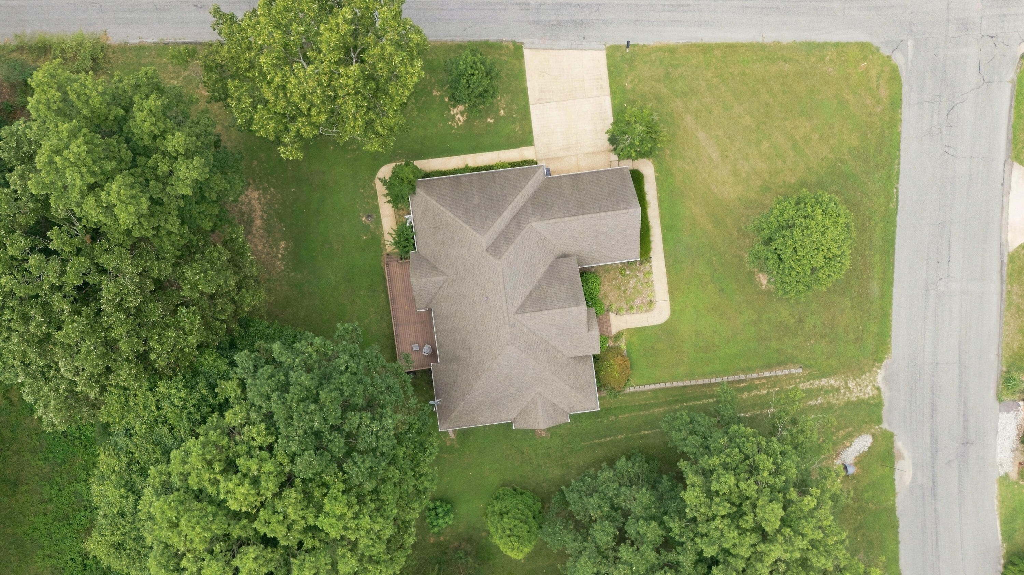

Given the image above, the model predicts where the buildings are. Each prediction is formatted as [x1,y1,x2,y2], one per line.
[409,163,640,432]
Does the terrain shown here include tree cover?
Yes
